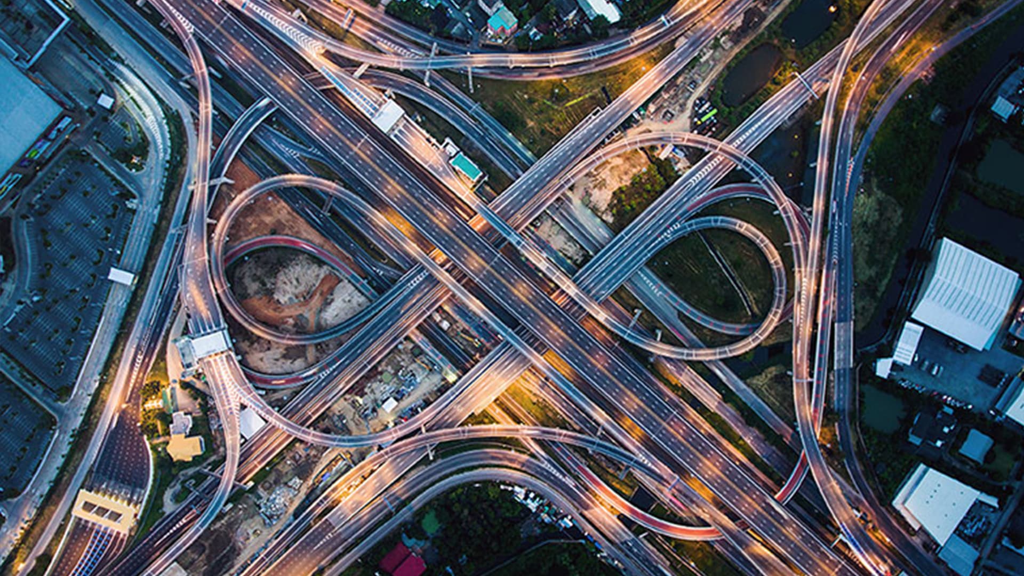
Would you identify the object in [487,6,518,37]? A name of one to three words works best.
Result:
house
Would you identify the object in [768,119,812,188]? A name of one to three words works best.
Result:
pond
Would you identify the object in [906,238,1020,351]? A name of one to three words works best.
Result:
warehouse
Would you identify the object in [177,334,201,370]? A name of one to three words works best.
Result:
building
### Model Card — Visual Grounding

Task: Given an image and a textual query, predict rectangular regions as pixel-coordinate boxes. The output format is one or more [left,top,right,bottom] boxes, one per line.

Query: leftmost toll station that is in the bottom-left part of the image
[71,481,142,535]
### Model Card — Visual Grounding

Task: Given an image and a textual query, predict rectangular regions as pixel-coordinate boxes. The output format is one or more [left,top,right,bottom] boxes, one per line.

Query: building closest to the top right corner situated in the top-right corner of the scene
[994,68,1024,103]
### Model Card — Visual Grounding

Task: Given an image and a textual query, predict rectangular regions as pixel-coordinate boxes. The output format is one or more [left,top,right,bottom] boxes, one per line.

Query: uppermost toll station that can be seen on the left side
[370,98,409,138]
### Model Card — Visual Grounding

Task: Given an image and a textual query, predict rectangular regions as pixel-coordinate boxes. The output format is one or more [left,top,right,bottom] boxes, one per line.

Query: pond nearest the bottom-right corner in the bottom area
[863,386,906,432]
